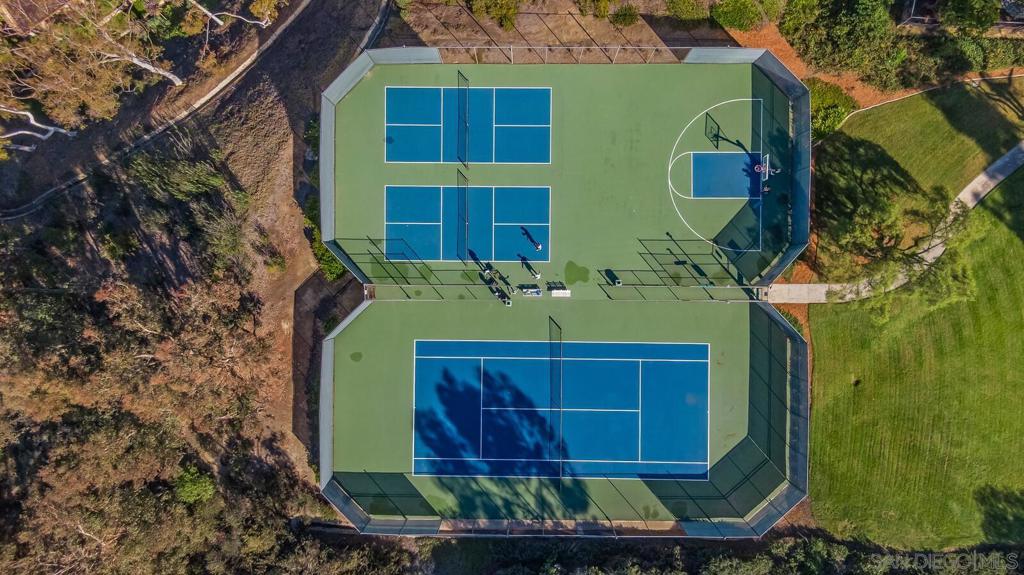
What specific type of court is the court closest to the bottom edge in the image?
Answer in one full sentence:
It turns out the court closest to the bottom edge is a tennis court.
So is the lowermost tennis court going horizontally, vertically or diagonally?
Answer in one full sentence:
The lowermost tennis court runs horizontally in the image.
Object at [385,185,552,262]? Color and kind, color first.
blue sports court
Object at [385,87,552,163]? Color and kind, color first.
blue sports court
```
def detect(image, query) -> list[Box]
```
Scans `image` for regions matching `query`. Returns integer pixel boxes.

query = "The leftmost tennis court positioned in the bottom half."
[413,340,710,480]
